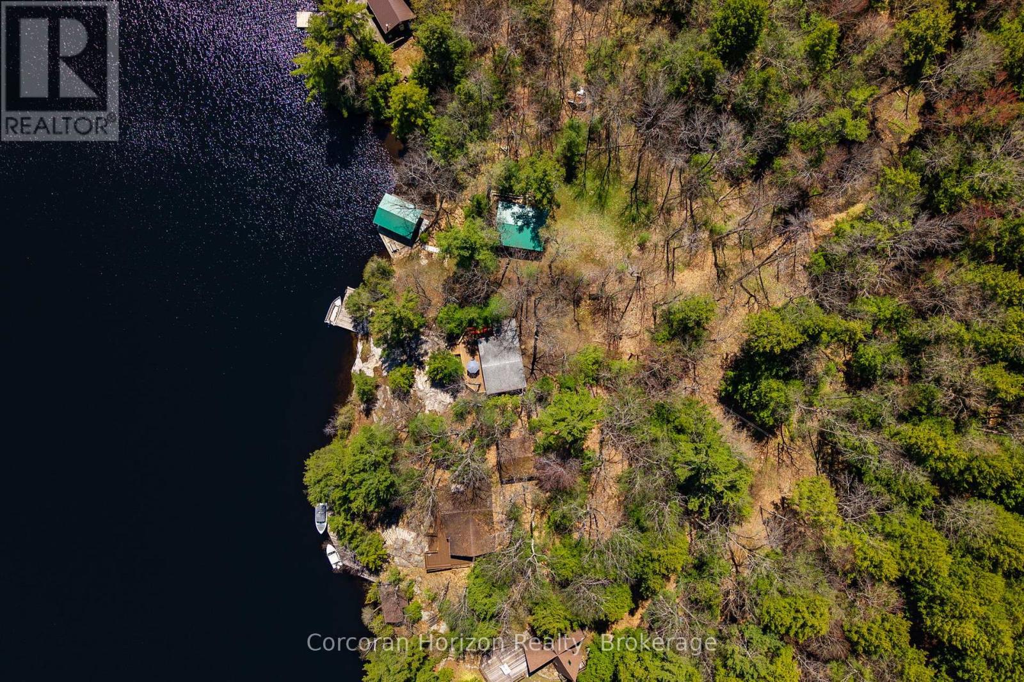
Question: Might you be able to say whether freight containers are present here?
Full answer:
No, the frame has no freight container in it.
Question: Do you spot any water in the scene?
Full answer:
Yes, water shows up in the scene.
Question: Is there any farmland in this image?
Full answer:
No, farmland can't be seen anywhere here.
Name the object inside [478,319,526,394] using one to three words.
house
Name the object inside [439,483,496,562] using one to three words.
house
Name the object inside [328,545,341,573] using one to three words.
boat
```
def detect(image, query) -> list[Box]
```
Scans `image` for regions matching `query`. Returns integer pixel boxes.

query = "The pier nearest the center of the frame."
[337,287,370,334]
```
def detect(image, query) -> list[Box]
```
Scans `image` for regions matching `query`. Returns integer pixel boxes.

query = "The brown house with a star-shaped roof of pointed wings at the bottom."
[522,620,585,682]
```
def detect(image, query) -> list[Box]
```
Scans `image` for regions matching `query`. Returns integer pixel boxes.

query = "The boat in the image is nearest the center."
[324,298,338,326]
